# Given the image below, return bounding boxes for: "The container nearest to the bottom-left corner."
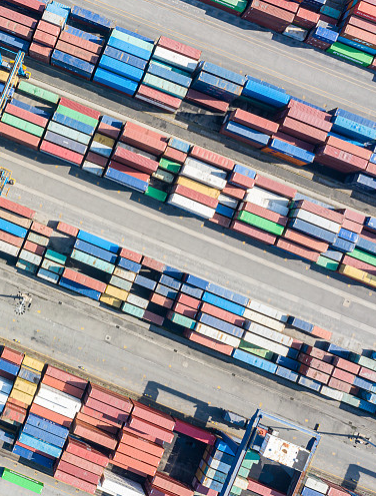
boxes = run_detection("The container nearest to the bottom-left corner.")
[2,467,44,494]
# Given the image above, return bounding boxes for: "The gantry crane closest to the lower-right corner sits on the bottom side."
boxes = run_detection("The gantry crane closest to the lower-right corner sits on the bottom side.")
[209,409,322,496]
